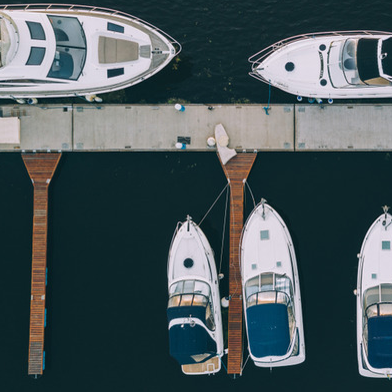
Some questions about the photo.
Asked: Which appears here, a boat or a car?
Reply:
boat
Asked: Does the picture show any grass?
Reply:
No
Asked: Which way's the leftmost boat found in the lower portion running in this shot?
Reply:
up and down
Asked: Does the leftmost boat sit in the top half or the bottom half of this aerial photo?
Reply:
top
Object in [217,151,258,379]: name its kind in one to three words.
pier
